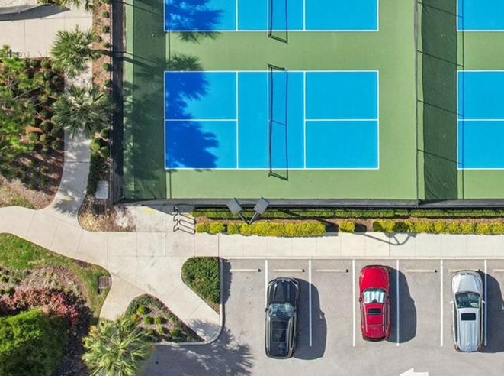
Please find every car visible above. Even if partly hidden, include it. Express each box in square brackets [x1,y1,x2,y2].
[356,263,394,340]
[262,275,301,359]
[449,269,489,351]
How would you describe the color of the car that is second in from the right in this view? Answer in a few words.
red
